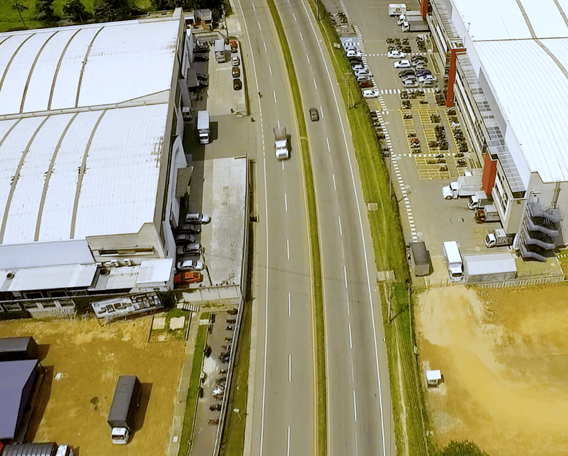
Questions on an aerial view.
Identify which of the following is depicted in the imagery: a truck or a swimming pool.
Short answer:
truck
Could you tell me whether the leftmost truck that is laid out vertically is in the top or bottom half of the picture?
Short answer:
bottom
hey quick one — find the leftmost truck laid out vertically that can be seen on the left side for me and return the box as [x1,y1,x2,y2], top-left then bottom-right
[105,376,145,446]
